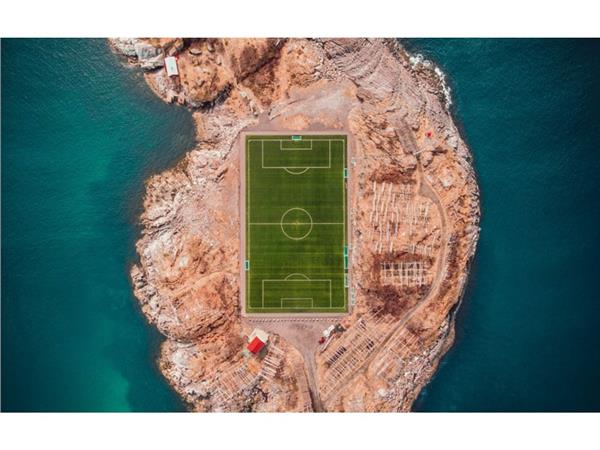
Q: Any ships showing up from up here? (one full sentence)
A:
No, the photo shows no ship.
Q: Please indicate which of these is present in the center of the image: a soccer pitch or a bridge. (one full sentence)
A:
Looking in the center of the image, you will find a soccer pitch.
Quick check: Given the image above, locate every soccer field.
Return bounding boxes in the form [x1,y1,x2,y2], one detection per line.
[241,131,351,317]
